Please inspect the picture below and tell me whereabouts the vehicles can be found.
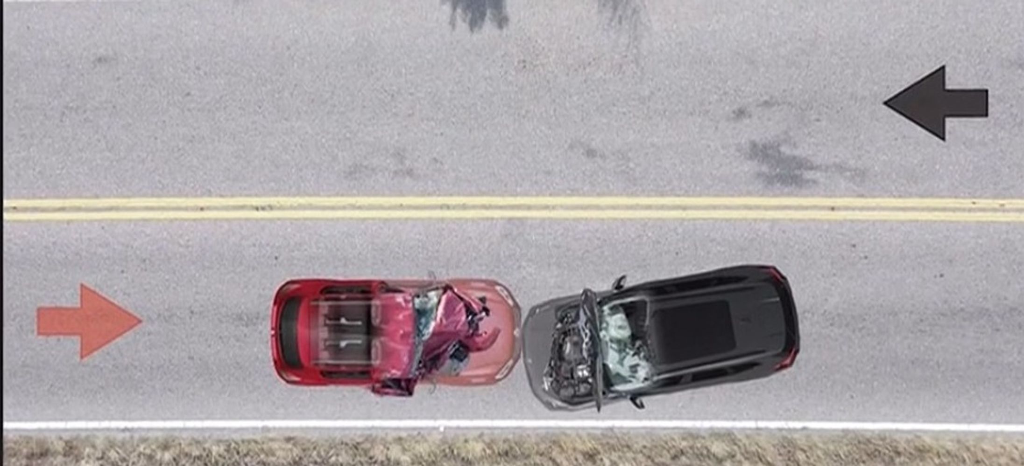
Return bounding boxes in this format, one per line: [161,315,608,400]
[271,272,521,397]
[521,265,802,414]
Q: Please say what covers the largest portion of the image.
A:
paved ground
